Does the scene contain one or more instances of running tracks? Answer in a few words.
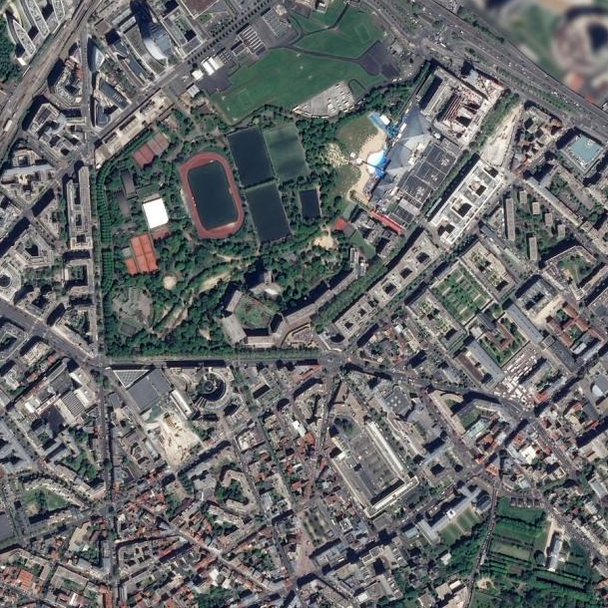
Yes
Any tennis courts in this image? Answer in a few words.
Yes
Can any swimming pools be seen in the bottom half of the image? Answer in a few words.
No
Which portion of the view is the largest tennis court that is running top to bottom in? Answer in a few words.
left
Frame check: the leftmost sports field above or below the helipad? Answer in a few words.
below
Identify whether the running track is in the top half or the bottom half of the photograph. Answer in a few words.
top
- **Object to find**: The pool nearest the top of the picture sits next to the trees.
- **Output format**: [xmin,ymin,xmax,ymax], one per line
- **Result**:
[368,110,400,141]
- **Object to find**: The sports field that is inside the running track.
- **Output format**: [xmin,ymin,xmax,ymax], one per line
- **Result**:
[188,161,237,229]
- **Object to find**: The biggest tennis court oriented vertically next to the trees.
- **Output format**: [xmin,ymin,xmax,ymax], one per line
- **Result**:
[132,233,158,275]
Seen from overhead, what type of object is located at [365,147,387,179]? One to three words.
swimming pool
